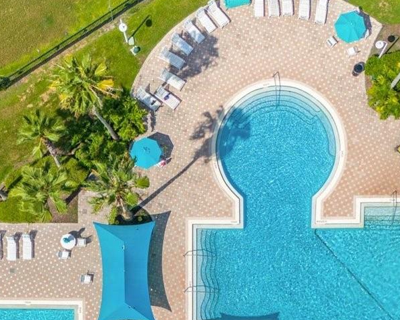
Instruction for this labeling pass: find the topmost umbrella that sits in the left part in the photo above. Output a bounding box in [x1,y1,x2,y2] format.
[131,137,163,169]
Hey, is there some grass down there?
Yes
